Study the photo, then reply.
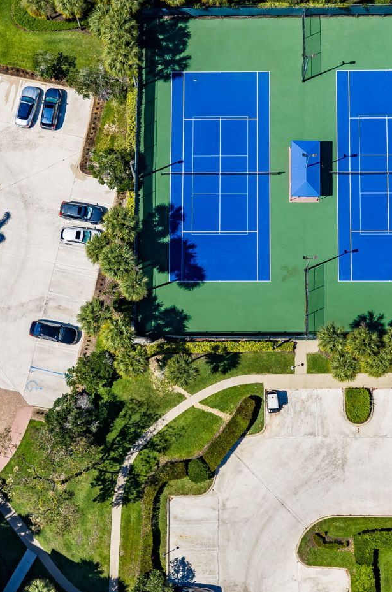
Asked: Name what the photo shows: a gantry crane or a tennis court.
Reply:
tennis court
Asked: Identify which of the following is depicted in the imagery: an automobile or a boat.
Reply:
automobile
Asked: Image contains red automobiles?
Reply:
No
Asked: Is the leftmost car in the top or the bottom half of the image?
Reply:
top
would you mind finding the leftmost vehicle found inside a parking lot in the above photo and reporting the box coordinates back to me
[14,86,41,128]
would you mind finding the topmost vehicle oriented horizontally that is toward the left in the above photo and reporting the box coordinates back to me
[57,200,104,226]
